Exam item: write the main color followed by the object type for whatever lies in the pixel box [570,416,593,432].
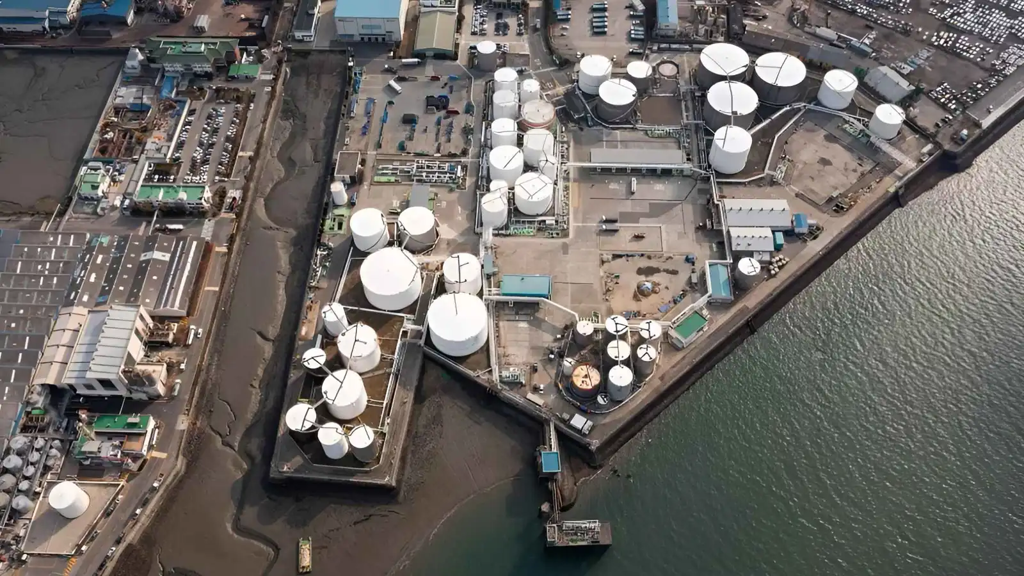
white vehicle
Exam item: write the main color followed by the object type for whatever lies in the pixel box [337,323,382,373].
white storage tank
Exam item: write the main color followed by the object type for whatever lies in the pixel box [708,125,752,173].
white storage tank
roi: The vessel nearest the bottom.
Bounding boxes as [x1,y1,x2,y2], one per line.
[298,532,312,573]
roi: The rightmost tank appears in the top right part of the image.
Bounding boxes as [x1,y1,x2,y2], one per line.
[867,103,907,141]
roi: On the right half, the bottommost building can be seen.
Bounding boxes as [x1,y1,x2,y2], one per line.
[668,305,711,351]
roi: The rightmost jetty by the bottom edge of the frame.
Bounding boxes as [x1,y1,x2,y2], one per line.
[536,417,612,551]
